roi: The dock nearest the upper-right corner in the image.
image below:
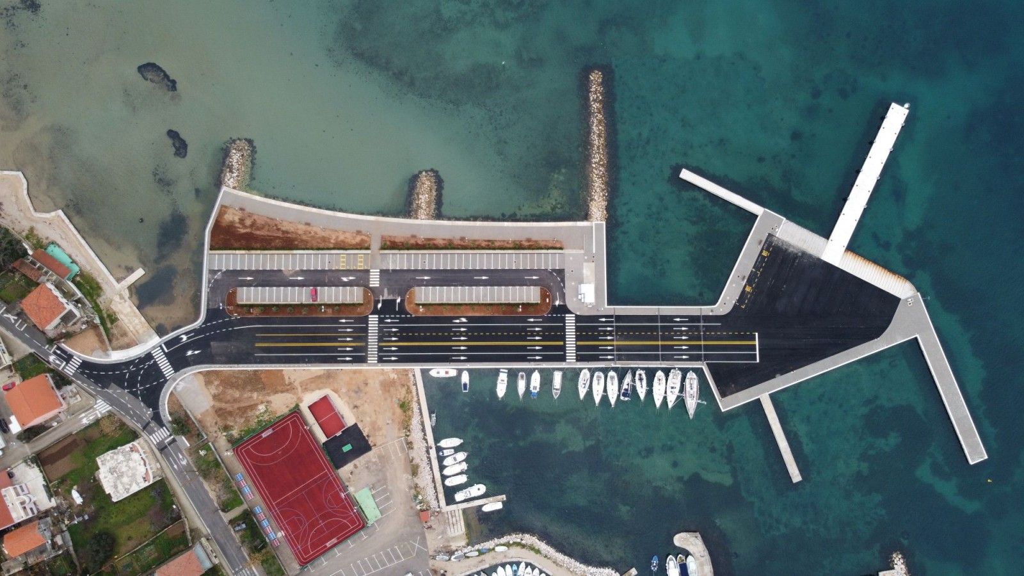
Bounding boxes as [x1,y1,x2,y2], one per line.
[821,102,909,266]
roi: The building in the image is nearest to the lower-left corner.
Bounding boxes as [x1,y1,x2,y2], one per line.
[1,515,56,576]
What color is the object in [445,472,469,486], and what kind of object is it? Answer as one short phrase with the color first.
white boat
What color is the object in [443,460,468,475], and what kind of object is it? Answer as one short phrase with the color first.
white boat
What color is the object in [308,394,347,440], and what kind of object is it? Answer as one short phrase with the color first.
red sports court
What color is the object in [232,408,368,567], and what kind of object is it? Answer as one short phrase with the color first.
red sports court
